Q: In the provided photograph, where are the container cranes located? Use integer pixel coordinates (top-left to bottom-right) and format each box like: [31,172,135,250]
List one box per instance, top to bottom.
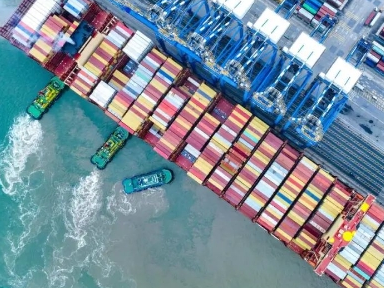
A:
[114,0,212,64]
[153,0,253,85]
[203,0,304,107]
[248,11,341,128]
[278,35,376,149]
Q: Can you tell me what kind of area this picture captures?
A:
port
